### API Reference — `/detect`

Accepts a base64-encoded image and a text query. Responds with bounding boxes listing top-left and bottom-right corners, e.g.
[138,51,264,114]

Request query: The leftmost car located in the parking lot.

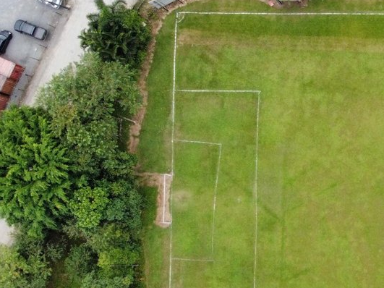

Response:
[0,27,15,58]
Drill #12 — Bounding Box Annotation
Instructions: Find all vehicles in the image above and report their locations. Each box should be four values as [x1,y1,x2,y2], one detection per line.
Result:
[14,19,50,41]
[0,27,15,58]
[36,0,66,11]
